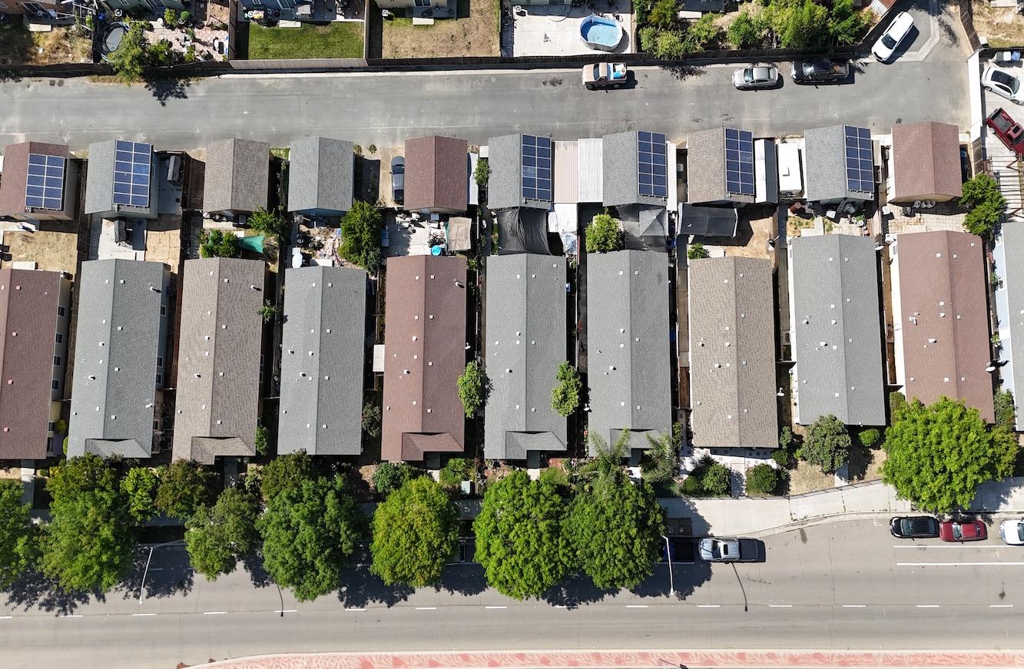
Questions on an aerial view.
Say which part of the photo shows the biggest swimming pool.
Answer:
top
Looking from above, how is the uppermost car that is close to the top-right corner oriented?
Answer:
at an angle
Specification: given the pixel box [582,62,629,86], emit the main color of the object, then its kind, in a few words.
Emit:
white truck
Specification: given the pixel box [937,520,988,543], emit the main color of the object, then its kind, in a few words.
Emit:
red car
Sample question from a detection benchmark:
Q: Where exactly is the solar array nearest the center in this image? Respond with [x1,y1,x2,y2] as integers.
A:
[522,135,551,202]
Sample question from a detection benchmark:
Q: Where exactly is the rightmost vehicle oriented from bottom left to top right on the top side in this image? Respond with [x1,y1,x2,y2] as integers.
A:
[871,10,914,64]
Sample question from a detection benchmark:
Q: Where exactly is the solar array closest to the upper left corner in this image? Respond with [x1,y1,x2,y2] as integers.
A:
[25,154,64,211]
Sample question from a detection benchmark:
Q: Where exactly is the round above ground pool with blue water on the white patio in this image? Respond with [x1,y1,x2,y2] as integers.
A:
[582,18,621,53]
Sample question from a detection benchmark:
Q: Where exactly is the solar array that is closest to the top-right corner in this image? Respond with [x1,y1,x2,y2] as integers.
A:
[845,126,874,193]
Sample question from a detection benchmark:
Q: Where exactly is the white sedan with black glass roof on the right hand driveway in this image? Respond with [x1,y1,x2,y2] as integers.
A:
[981,70,1024,105]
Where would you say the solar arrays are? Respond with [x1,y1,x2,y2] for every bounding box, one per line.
[638,131,667,198]
[25,154,64,211]
[845,126,874,193]
[113,141,151,208]
[725,128,754,196]
[522,135,551,202]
